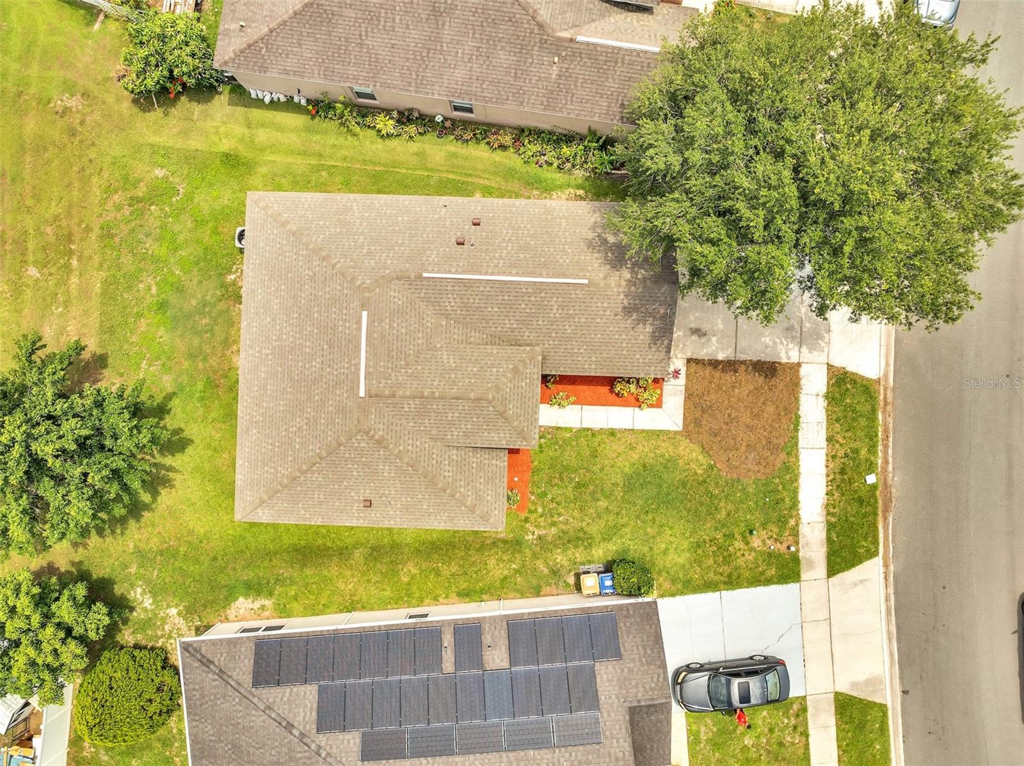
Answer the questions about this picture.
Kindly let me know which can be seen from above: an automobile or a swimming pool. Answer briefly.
automobile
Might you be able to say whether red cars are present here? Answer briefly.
No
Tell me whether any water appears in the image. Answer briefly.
No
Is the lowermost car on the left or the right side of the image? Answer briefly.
right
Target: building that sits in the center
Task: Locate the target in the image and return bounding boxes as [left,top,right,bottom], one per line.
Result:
[233,188,680,533]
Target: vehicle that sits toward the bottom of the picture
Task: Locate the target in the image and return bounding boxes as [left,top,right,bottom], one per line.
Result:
[671,655,790,717]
